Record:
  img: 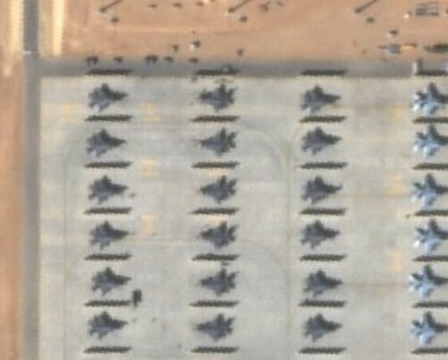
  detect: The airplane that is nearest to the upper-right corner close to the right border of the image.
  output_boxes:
[411,88,448,114]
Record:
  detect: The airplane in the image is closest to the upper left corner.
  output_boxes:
[89,87,124,111]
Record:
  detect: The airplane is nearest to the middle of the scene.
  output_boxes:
[196,180,232,203]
